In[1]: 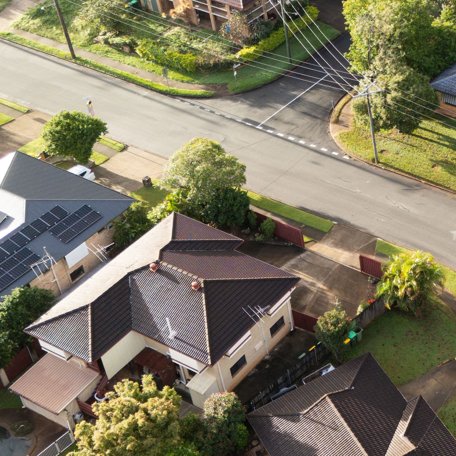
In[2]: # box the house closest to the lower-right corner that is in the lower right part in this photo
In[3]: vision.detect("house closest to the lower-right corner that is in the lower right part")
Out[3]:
[244,349,456,456]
